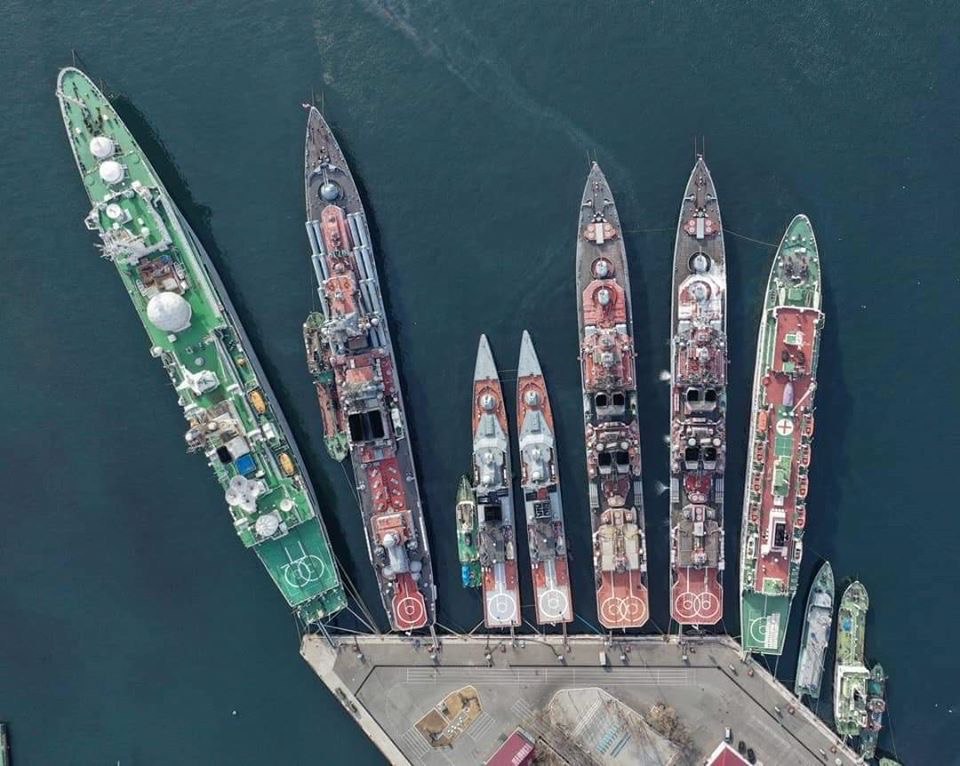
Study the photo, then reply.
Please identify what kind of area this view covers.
port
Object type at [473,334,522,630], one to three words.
ship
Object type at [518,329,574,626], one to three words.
ship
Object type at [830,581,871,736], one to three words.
boat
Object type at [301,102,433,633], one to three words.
vessel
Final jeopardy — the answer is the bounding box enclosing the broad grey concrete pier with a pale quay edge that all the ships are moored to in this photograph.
[299,631,867,766]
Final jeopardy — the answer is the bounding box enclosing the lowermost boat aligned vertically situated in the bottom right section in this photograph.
[859,663,886,760]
